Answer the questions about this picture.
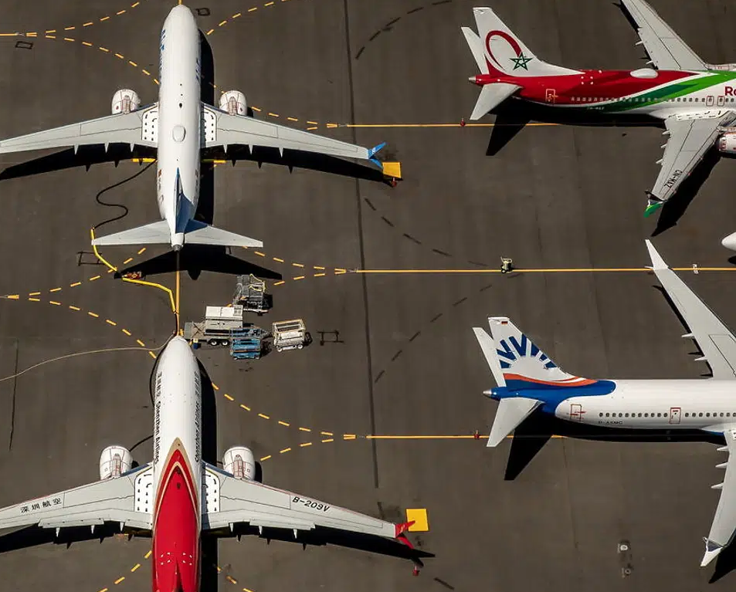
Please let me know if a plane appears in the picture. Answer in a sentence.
Yes, there's a plane here.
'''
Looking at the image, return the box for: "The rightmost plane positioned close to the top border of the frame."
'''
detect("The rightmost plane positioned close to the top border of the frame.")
[461,0,736,219]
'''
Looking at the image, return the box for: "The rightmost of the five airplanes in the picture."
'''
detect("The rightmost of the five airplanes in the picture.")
[715,230,736,256]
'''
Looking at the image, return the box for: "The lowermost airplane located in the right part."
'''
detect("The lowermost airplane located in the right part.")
[474,243,736,566]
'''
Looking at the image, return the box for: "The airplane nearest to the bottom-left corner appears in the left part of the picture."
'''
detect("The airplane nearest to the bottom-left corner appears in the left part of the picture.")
[0,336,417,592]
